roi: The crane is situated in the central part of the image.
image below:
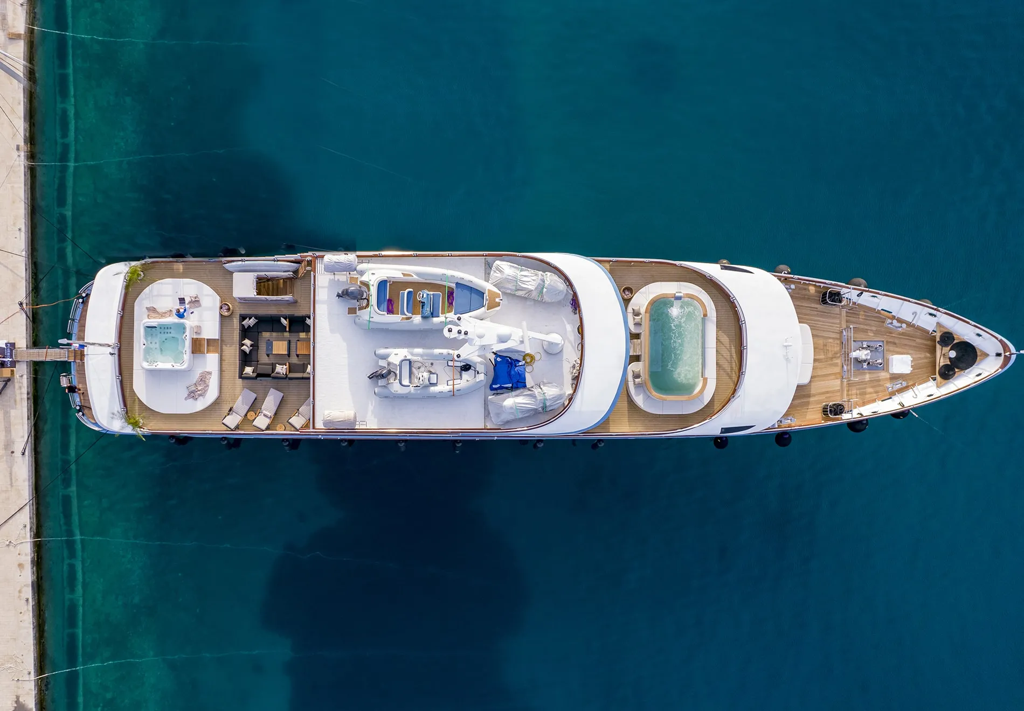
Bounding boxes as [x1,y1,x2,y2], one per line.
[444,315,566,360]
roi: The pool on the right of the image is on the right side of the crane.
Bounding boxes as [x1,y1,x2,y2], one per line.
[627,281,717,416]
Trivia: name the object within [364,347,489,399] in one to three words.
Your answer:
boat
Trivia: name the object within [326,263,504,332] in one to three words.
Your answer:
boat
